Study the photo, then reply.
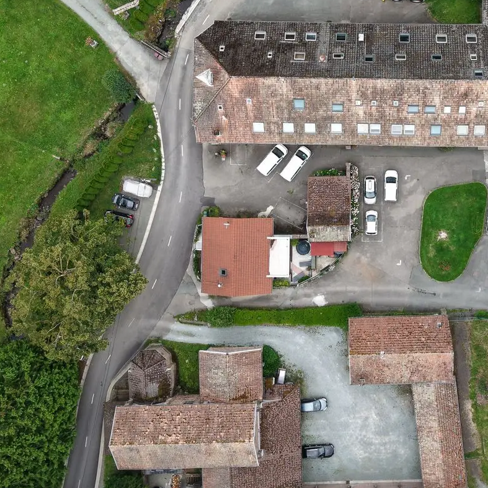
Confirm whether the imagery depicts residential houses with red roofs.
Yes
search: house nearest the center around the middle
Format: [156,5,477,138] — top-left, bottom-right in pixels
[193,216,274,296]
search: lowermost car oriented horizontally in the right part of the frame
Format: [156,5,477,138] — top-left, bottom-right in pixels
[303,443,333,458]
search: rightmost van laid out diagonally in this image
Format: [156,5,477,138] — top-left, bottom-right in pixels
[280,146,310,181]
